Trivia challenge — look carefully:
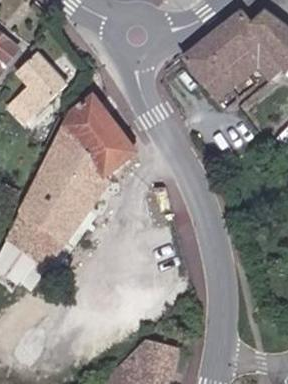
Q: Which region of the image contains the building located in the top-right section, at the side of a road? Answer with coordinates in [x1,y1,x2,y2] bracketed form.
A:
[184,8,288,112]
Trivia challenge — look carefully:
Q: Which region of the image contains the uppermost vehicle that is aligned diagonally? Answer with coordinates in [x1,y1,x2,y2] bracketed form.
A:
[178,70,198,91]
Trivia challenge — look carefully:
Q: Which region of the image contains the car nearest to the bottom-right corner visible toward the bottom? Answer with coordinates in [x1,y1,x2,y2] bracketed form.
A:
[158,257,181,270]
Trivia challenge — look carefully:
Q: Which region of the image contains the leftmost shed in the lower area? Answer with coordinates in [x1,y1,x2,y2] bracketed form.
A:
[0,242,20,276]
